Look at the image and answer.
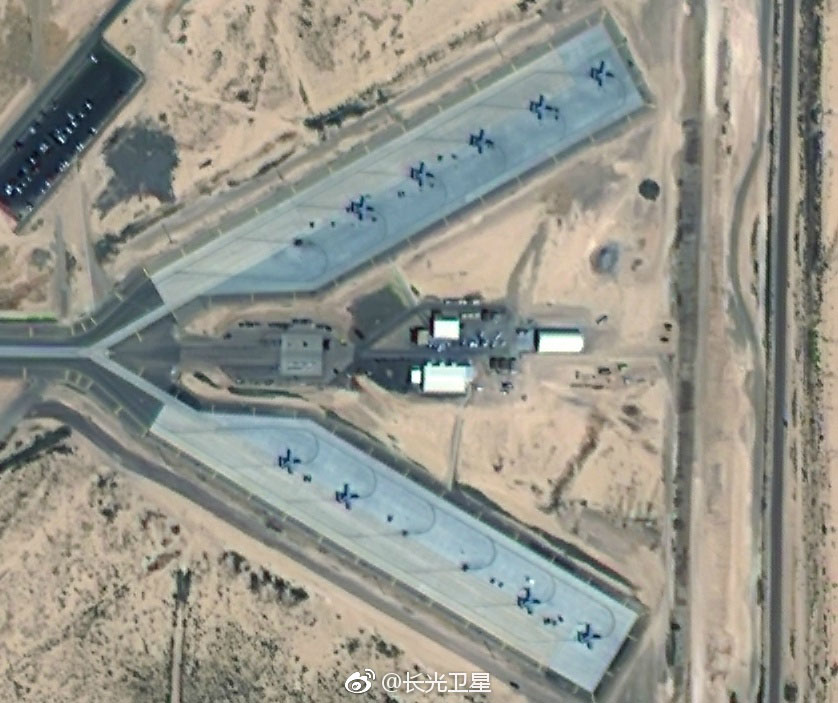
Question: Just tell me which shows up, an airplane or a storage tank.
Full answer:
I can see an airplane in this picture.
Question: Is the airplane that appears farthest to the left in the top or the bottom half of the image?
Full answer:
You can find the airplane that appears farthest to the left in the bottom half.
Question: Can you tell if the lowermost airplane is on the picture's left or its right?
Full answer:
The lowermost airplane appears in the right half of the scene.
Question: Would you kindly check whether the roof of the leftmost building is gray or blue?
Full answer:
In this view, the roof of the leftmost building is gray.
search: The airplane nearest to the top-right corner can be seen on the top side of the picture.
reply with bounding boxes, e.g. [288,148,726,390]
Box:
[591,61,615,86]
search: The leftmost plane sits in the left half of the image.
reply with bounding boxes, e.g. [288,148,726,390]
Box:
[278,449,302,474]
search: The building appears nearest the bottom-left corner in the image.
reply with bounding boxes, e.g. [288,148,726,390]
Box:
[282,333,322,376]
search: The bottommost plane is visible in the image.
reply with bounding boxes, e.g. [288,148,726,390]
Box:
[578,624,601,649]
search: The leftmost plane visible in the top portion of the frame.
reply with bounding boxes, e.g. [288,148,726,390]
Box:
[349,196,374,220]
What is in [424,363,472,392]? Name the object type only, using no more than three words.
hangar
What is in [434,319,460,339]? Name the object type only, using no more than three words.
hangar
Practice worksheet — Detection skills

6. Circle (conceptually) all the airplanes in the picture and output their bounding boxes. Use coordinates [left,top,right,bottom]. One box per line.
[470,128,493,154]
[529,94,552,119]
[410,161,434,187]
[591,61,615,86]
[578,624,601,649]
[349,196,374,220]
[278,449,302,474]
[336,484,359,509]
[518,589,541,615]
